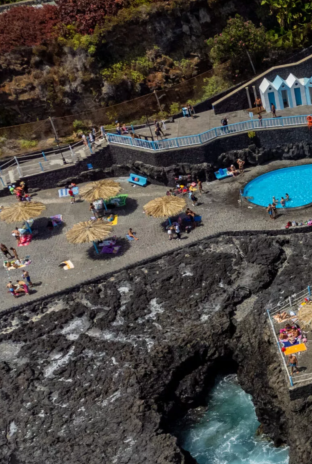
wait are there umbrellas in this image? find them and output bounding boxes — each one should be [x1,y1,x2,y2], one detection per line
[68,222,110,255]
[297,302,312,328]
[144,196,182,227]
[80,181,116,212]
[1,204,42,235]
